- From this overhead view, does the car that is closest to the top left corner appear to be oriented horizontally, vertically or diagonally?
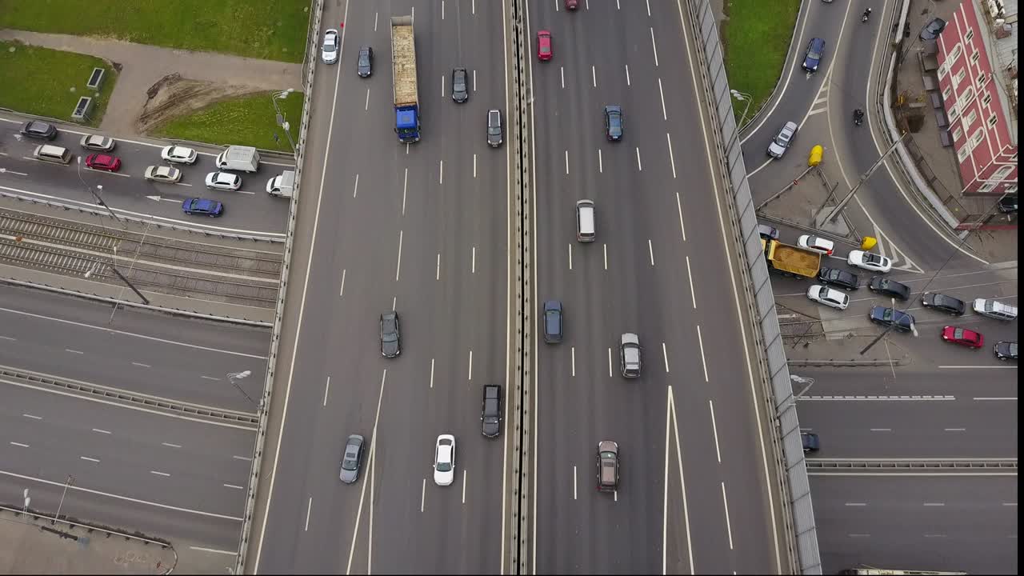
horizontally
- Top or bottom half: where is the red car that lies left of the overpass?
top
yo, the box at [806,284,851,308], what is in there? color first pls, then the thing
white car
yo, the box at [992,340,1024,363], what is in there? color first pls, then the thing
gray car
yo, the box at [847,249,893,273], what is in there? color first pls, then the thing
white car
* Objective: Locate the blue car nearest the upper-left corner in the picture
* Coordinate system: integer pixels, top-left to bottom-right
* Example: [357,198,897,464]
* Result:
[181,196,225,218]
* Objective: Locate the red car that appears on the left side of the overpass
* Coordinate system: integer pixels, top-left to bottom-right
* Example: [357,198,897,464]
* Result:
[83,152,124,173]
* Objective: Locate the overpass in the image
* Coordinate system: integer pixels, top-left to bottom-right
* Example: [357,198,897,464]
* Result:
[249,0,804,576]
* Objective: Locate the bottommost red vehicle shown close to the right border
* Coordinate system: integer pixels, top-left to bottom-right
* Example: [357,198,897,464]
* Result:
[940,324,986,348]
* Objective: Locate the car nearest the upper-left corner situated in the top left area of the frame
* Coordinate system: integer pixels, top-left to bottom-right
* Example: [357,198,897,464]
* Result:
[19,119,59,140]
